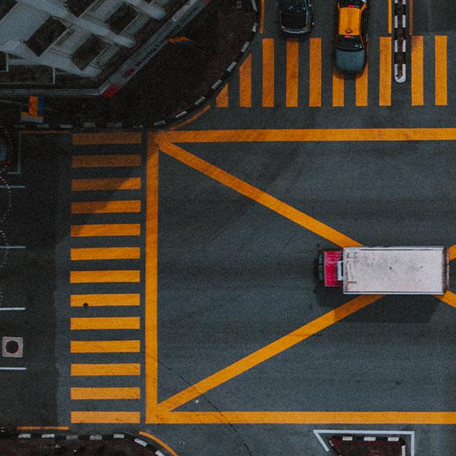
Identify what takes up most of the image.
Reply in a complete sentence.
What you mostly see from above here is paved ground.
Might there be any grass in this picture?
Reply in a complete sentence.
No, grass can't be seen anywhere here.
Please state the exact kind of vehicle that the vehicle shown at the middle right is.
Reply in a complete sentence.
The vehicle shown at the middle right appears to be a truck.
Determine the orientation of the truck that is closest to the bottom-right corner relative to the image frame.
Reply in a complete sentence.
I'd say the truck that is closest to the bottom-right corner is aligned from left to right in the picture.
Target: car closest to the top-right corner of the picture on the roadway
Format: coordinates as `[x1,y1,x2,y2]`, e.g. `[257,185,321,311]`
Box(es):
[328,0,371,74]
